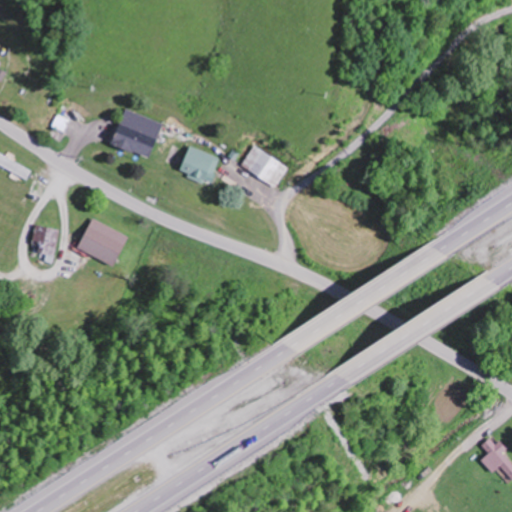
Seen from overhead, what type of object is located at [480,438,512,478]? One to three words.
house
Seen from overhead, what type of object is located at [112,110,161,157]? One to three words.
house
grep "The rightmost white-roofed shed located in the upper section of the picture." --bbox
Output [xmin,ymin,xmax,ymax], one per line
[239,140,290,192]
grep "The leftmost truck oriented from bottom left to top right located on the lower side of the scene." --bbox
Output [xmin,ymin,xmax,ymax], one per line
[212,438,256,468]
